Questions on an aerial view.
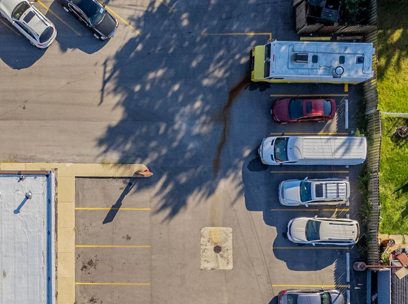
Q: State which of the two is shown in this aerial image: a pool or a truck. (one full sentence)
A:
Looking from above, you can make out a truck.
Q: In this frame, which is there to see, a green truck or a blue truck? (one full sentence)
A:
Visible in the photo is a blue truck.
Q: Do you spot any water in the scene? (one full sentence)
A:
No, the scene doesn't show any water.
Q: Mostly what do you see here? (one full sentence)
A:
For the most part, this view shows paved ground.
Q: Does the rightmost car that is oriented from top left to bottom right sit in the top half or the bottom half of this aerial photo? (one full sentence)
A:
Seen from above, the rightmost car that is oriented from top left to bottom right lies in the top half of the view.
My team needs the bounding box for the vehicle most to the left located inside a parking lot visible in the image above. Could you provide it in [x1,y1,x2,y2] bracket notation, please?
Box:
[0,0,56,49]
